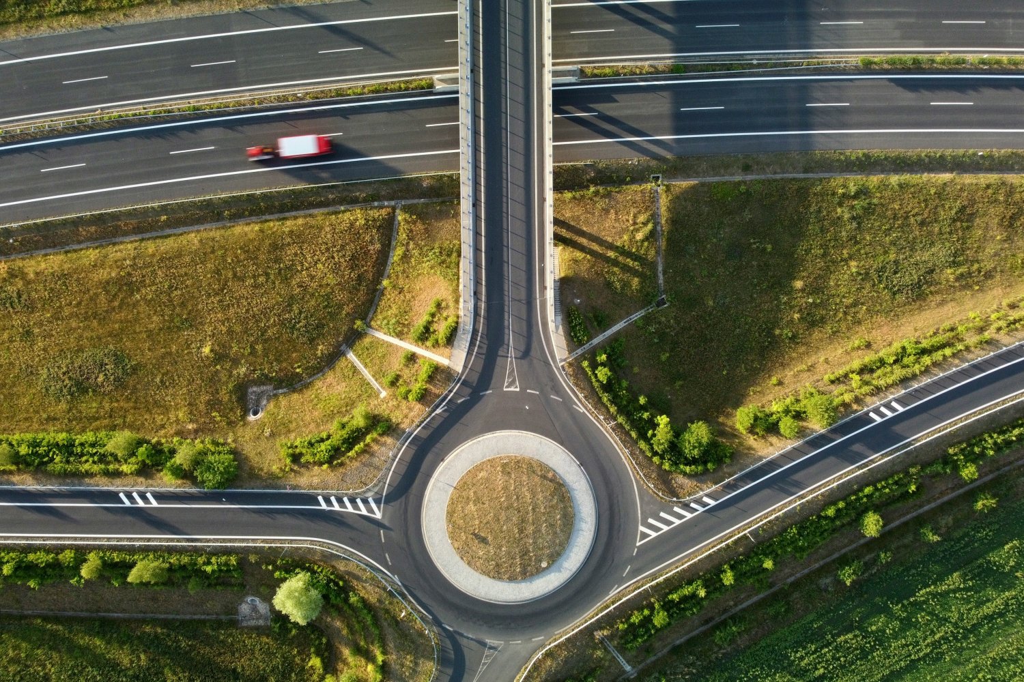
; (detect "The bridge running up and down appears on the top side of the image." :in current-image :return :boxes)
[458,0,559,362]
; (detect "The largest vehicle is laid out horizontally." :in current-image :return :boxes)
[278,134,341,162]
